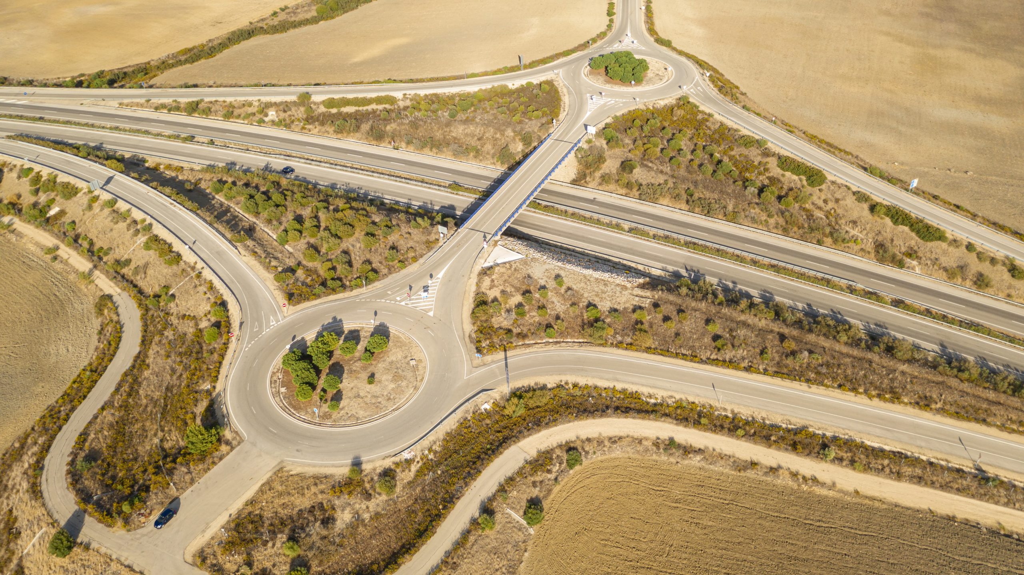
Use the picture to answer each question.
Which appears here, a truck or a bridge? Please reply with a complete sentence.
I can see a bridge in this picture.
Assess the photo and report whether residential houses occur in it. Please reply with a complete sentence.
No, the photo shows no residential house.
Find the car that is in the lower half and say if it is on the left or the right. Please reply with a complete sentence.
The car that is in the lower half is on the left side of the image.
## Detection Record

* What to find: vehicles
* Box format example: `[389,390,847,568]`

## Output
[152,507,176,529]
[281,167,294,174]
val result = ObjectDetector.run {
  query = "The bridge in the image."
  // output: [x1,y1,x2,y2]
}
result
[461,134,577,235]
